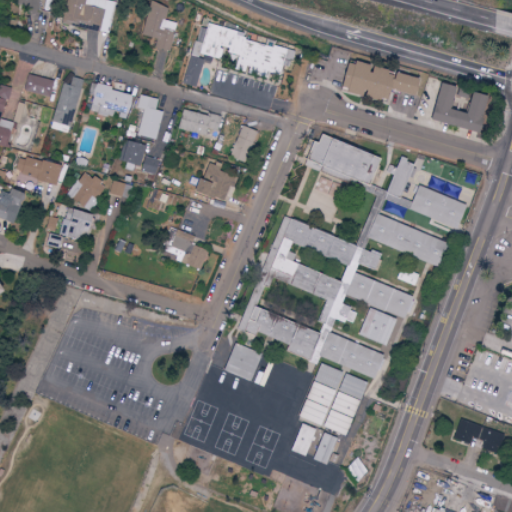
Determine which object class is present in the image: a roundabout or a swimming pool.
swimming pool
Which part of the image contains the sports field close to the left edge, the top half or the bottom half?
bottom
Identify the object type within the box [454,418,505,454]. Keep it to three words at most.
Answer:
house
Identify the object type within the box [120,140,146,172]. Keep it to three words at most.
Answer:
house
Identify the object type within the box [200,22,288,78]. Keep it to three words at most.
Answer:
building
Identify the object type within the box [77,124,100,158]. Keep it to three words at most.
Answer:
swimming pool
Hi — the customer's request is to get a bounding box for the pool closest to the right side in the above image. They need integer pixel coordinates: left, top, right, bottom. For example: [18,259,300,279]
[198,60,217,90]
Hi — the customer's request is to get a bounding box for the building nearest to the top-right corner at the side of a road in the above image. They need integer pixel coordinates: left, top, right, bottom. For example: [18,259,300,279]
[433,82,489,132]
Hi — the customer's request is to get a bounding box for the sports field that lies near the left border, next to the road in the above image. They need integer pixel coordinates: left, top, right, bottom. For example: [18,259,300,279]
[0,402,158,512]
